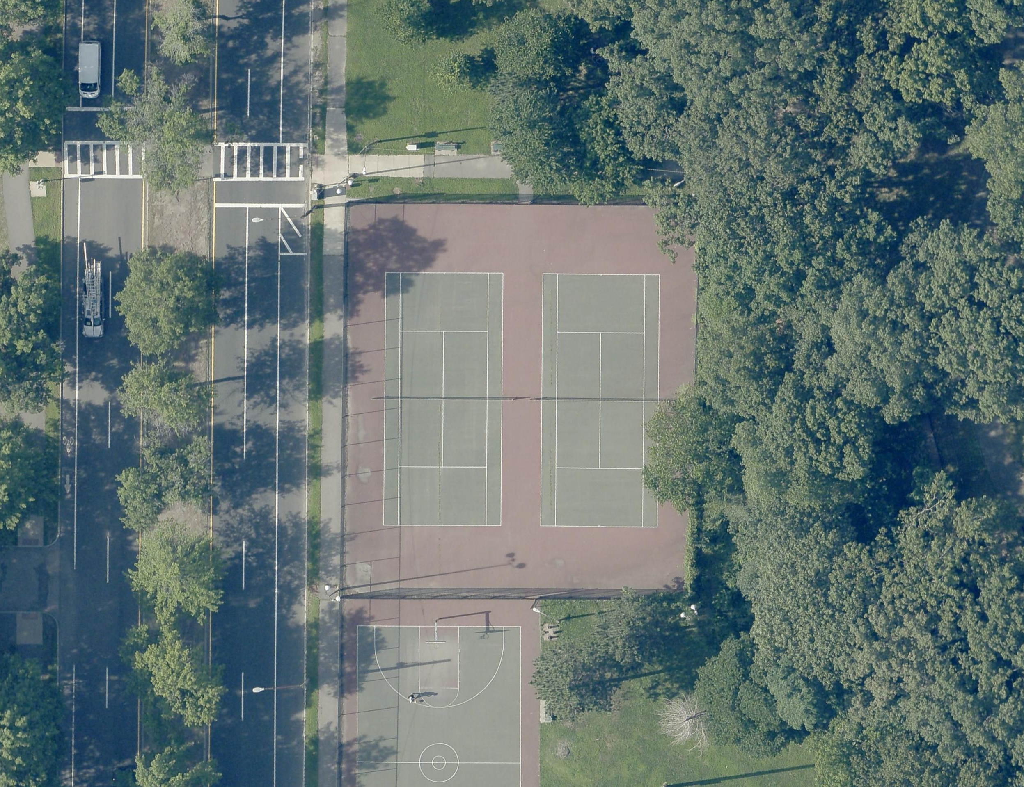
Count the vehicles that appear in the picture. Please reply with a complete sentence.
I count 2 vehicles.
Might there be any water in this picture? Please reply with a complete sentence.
No, there is no water in the image.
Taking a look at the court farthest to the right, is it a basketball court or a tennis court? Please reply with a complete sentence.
I'd say the court farthest to the right is a tennis court.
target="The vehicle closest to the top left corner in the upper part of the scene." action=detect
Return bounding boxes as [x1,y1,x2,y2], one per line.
[78,40,102,98]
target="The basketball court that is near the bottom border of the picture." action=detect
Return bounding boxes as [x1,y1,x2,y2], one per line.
[357,626,521,787]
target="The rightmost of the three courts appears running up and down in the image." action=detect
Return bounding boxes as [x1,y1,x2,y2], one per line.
[540,262,660,527]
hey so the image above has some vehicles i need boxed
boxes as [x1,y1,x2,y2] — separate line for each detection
[78,40,102,98]
[81,278,105,338]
